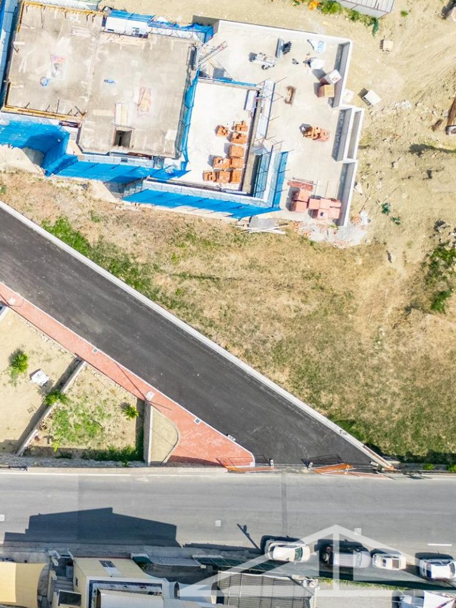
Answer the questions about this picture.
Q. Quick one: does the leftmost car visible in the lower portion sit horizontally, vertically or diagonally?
horizontally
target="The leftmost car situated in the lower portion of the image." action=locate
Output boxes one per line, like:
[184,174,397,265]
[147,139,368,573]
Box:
[261,539,309,564]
